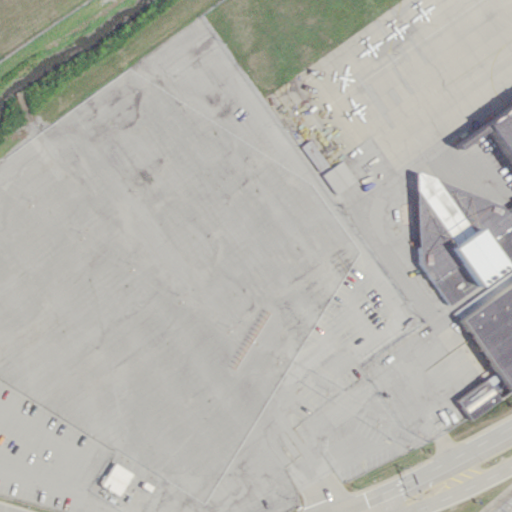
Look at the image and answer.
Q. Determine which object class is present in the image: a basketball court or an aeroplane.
aeroplane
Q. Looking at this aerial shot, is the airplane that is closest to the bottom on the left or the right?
right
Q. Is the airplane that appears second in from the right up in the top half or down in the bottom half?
top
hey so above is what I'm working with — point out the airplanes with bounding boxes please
[334,66,356,92]
[360,36,382,58]
[346,98,366,122]
[413,1,435,22]
[388,19,410,40]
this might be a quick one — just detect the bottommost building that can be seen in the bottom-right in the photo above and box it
[456,376,502,419]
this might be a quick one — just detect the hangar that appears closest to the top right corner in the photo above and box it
[454,106,512,168]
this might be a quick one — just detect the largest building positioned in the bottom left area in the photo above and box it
[100,462,136,496]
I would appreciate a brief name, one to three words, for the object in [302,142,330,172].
shed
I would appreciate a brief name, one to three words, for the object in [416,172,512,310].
building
